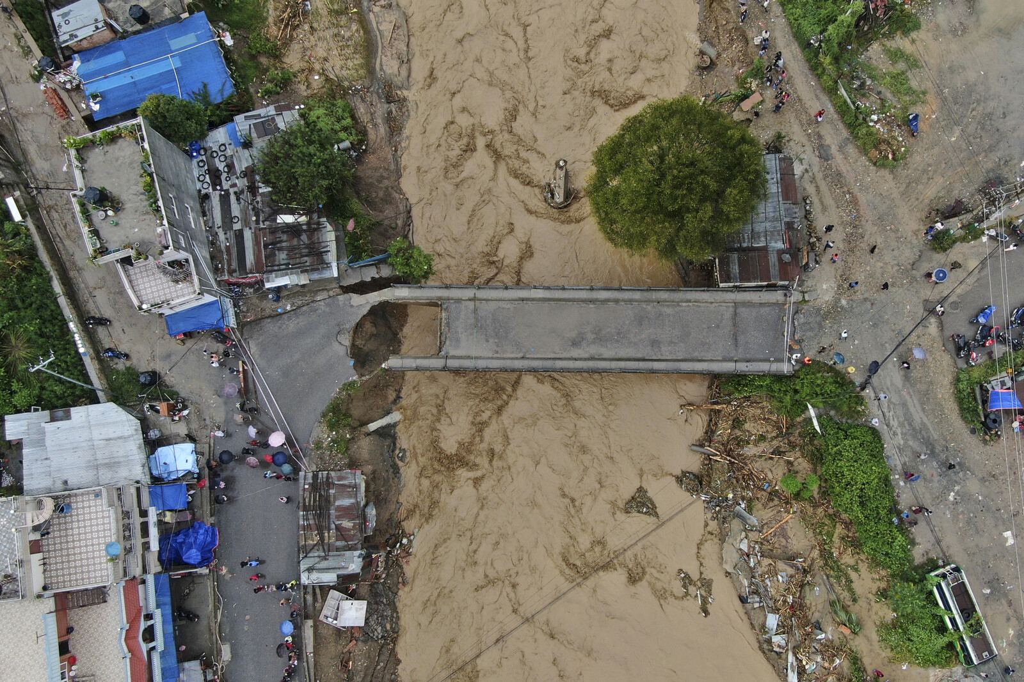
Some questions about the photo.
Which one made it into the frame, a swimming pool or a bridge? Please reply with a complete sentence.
There is a bridge in the scene.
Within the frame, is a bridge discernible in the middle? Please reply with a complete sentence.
Yes, you'll find a bridge in the middle.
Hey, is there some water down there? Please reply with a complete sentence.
Yes, there's water in this view.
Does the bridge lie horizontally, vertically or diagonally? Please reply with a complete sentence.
The bridge is laid out horizontally.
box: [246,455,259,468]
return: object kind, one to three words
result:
umbrella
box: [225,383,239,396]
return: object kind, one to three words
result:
umbrella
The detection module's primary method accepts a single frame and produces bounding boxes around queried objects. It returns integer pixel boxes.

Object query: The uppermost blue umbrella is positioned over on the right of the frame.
[932,268,947,282]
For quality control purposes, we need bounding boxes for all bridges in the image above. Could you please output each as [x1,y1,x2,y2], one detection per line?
[354,285,802,378]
